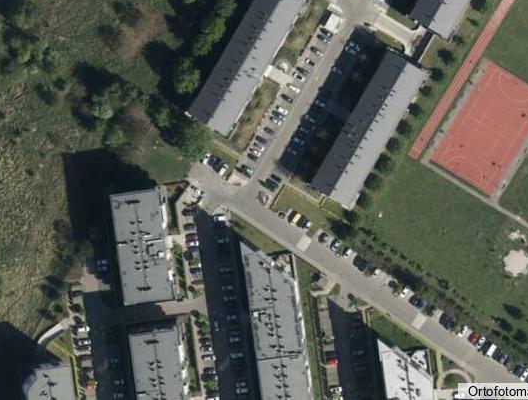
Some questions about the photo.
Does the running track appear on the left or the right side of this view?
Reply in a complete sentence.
You can find the running track on the right side of the picture.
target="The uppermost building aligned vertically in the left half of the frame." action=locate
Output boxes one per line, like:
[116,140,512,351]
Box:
[109,187,178,305]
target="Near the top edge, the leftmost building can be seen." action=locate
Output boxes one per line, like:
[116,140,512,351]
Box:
[189,0,304,135]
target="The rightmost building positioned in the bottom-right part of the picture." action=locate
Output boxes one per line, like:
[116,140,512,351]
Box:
[377,334,433,400]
